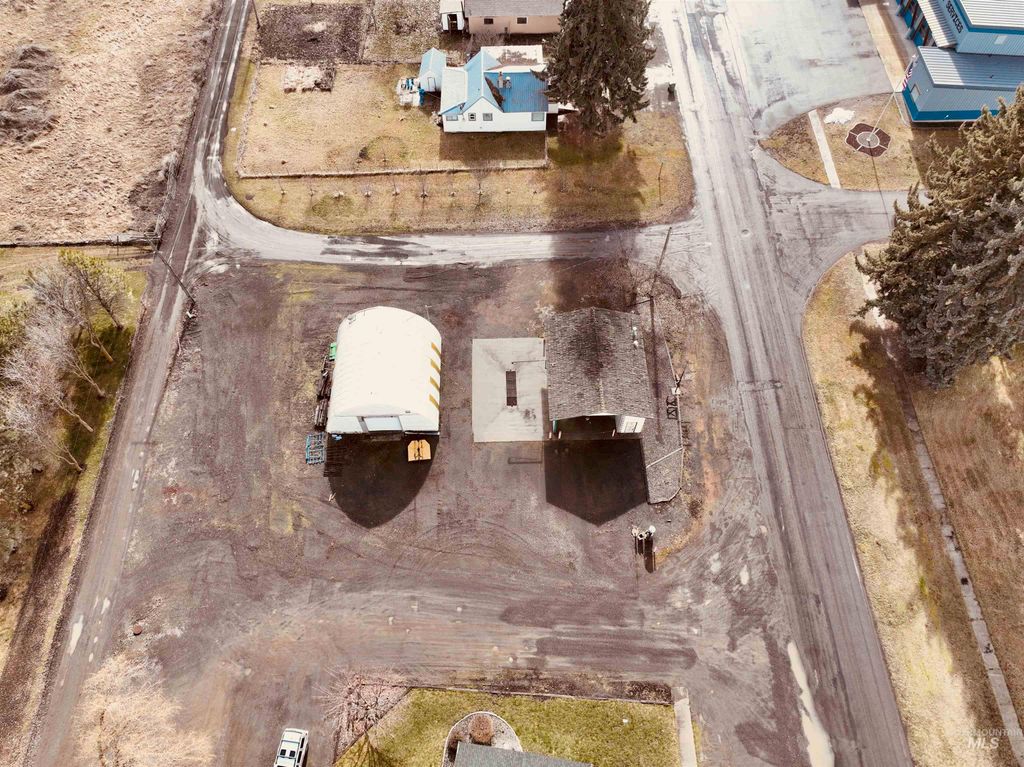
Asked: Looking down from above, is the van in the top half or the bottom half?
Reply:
bottom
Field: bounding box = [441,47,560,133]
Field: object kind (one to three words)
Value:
house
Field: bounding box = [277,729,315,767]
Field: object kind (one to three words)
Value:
van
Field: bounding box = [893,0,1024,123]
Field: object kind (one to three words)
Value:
building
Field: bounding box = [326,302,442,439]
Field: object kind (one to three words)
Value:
shed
